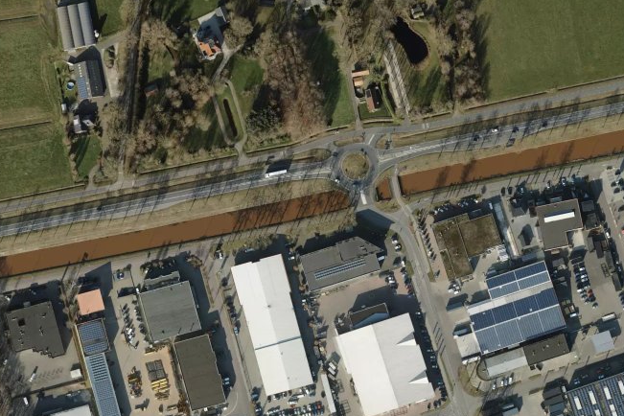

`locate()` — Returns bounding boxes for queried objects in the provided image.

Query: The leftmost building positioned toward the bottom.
[6,302,65,357]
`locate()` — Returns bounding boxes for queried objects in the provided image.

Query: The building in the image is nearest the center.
[299,237,382,293]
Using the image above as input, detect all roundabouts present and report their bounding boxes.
[332,140,380,186]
